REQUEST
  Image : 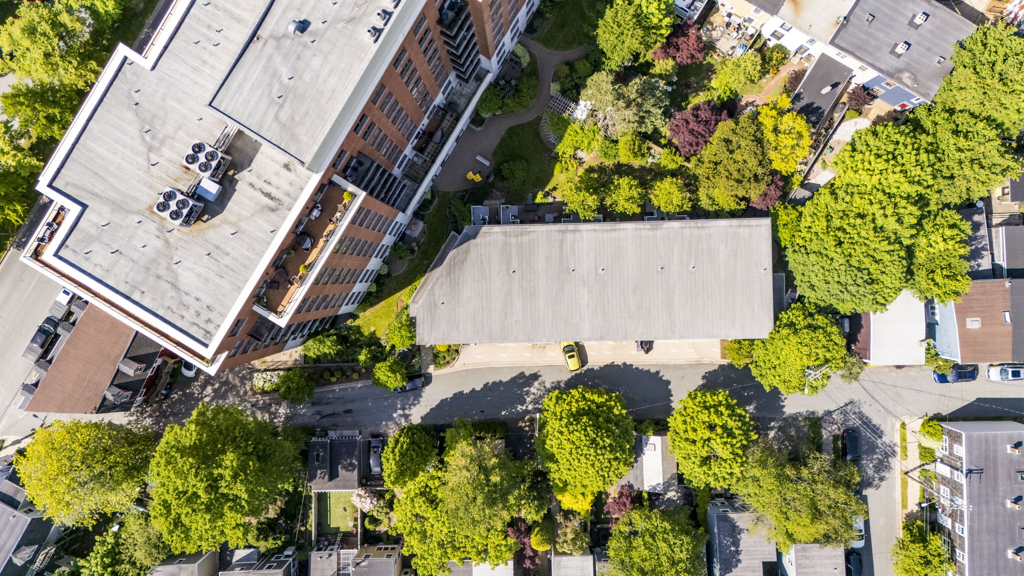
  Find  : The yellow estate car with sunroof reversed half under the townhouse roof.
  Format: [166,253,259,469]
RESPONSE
[558,342,581,373]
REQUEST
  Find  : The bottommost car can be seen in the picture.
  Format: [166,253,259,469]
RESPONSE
[845,552,865,576]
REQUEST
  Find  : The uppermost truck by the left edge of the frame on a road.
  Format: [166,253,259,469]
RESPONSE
[45,284,77,320]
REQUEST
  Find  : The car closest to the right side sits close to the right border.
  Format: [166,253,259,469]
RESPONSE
[987,363,1024,384]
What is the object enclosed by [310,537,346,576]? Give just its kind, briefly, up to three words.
house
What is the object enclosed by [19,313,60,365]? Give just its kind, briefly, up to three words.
truck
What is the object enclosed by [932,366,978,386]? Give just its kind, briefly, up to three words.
car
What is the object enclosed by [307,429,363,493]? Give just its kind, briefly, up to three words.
house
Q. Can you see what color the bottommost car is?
black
